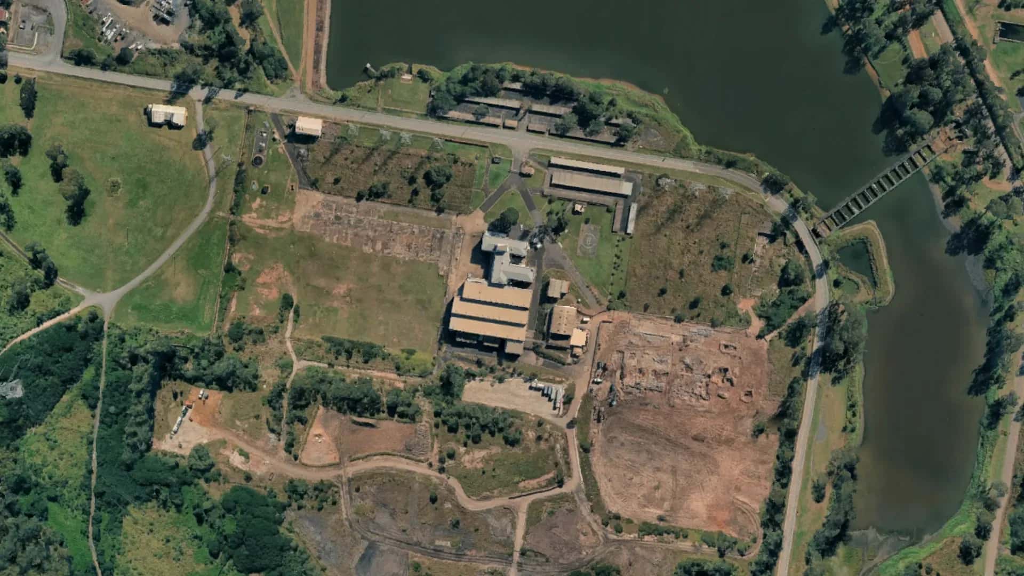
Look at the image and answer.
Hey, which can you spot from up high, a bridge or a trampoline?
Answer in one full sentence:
Visible in the photo is a bridge.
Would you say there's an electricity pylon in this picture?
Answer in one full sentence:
Yes, the picture does show an electricity pylon.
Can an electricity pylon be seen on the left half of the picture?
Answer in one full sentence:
Yes, the scene does show an electricity pylon on the left half of the picture.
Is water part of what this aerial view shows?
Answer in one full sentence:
Yes, the picture does contain water.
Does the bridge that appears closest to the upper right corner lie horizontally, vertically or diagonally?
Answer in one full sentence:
What the image shows is the bridge that appears closest to the upper right corner lying diagonally.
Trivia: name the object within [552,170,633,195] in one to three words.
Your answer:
shed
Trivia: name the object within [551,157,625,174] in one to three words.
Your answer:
shed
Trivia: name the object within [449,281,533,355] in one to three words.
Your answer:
building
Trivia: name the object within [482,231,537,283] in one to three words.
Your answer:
building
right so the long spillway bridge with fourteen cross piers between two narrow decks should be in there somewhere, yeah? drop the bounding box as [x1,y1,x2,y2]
[815,140,942,237]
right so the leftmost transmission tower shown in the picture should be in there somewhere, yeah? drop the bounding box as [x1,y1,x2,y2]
[5,381,33,406]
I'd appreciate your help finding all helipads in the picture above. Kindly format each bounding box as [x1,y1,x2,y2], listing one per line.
[578,225,600,256]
